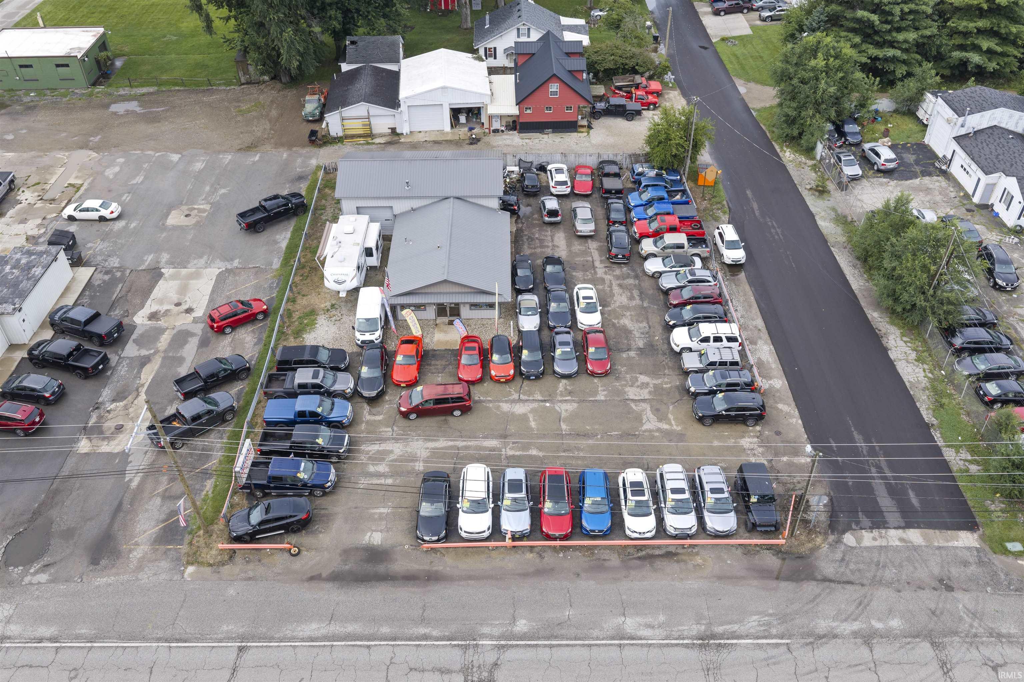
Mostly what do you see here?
paved ground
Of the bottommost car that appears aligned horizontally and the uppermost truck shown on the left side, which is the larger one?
the car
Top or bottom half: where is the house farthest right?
top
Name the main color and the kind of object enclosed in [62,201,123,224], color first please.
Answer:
white car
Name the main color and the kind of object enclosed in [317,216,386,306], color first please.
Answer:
white trailer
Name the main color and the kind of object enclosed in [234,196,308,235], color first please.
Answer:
black truck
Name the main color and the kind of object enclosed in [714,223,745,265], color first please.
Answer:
white car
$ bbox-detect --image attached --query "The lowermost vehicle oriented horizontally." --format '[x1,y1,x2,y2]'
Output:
[228,500,314,544]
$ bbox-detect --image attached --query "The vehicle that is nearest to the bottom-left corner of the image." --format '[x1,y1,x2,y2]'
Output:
[0,401,48,441]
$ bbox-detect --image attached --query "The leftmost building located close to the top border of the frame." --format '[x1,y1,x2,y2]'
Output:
[0,26,116,87]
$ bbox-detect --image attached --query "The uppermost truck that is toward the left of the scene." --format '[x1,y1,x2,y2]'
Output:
[300,73,329,121]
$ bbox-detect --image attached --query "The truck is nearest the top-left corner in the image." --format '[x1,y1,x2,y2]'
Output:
[0,176,25,201]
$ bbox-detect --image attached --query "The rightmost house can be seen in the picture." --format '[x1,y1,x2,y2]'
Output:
[923,81,1024,233]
